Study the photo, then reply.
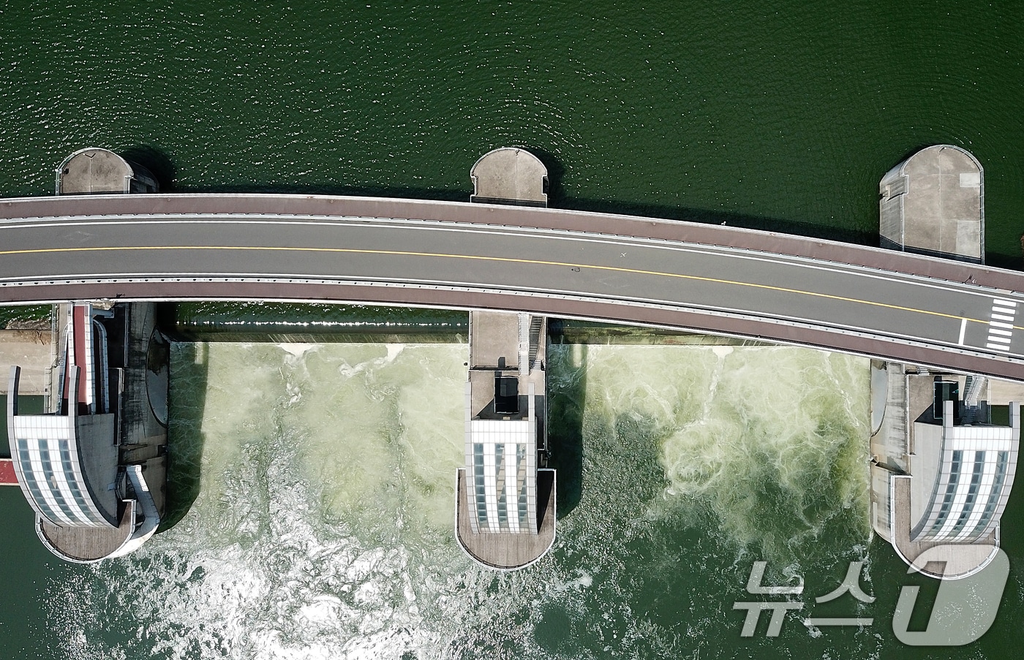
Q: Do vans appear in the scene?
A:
No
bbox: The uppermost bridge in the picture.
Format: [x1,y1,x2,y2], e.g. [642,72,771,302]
[0,193,1024,384]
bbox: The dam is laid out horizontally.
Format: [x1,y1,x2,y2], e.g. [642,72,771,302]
[0,146,1024,576]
